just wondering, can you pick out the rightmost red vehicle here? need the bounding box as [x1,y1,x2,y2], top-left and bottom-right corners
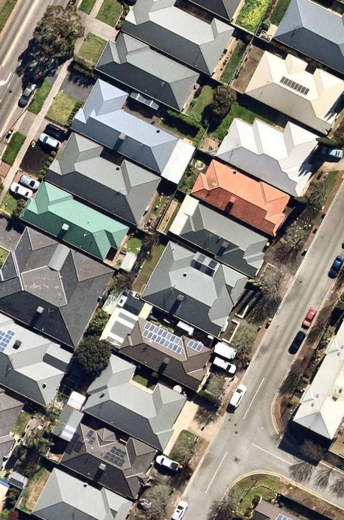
[303,308,317,327]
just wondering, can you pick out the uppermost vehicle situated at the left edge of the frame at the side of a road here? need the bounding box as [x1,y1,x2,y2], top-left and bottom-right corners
[17,83,34,107]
